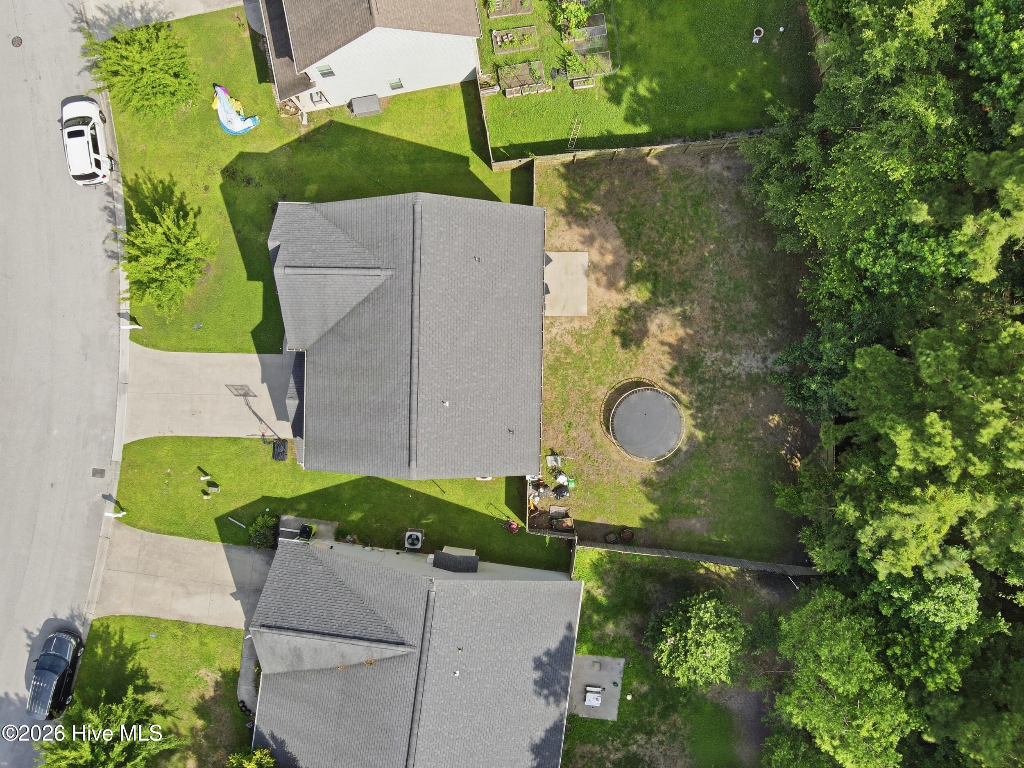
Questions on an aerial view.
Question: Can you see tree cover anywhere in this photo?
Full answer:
Yes, tree cover can be seen from above here.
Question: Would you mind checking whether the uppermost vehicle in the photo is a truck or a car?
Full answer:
I'd say the uppermost vehicle is a car.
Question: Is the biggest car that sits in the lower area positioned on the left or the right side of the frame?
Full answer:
It is on the left.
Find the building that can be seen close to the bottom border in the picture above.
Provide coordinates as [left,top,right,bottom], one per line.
[247,532,585,768]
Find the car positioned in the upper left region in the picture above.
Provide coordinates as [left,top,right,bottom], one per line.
[59,100,114,191]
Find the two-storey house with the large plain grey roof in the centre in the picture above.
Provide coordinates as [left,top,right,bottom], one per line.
[267,192,547,481]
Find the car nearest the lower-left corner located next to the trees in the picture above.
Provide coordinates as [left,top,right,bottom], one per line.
[23,625,89,724]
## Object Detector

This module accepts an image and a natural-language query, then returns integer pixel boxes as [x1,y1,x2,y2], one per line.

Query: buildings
[247,532,585,768]
[257,0,484,120]
[267,192,547,481]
